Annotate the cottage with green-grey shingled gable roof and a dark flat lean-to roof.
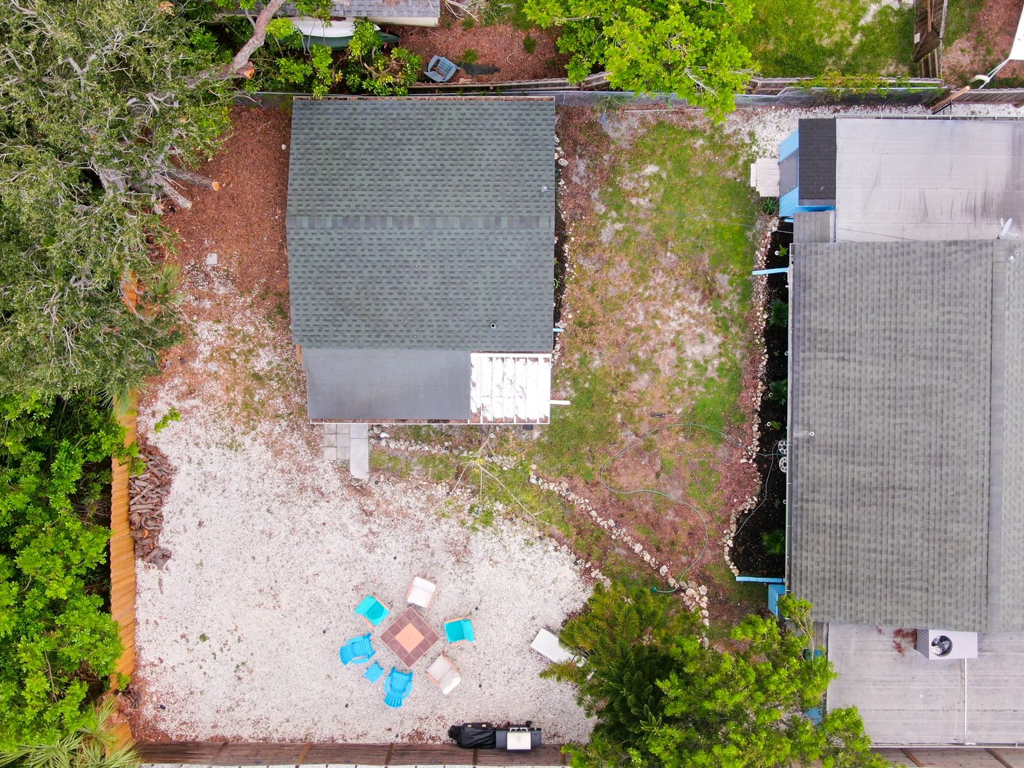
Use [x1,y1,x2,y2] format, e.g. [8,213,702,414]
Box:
[286,95,563,425]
